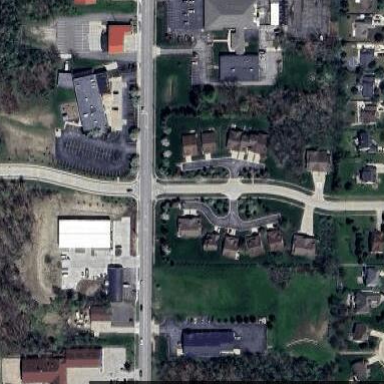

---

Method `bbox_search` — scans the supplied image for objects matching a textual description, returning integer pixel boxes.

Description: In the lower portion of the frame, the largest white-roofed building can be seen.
[60,219,111,252]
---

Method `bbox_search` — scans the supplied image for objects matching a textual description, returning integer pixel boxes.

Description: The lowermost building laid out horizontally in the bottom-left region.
[21,349,103,384]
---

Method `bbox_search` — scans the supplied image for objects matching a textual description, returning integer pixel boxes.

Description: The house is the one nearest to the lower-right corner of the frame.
[349,358,369,380]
